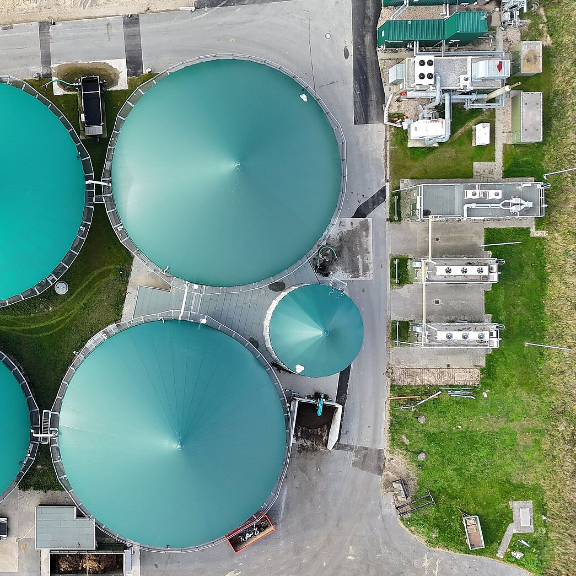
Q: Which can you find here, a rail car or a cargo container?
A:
cargo container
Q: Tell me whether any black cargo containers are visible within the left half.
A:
Yes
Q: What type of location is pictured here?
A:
industrial area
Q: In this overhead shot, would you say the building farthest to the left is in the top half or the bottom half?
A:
bottom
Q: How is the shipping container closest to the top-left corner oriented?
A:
up and down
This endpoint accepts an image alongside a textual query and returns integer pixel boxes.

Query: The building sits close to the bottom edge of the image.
[35,501,95,550]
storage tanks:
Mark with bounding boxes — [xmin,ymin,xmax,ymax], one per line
[0,345,41,504]
[0,77,94,309]
[264,282,363,377]
[100,53,345,297]
[50,310,292,552]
